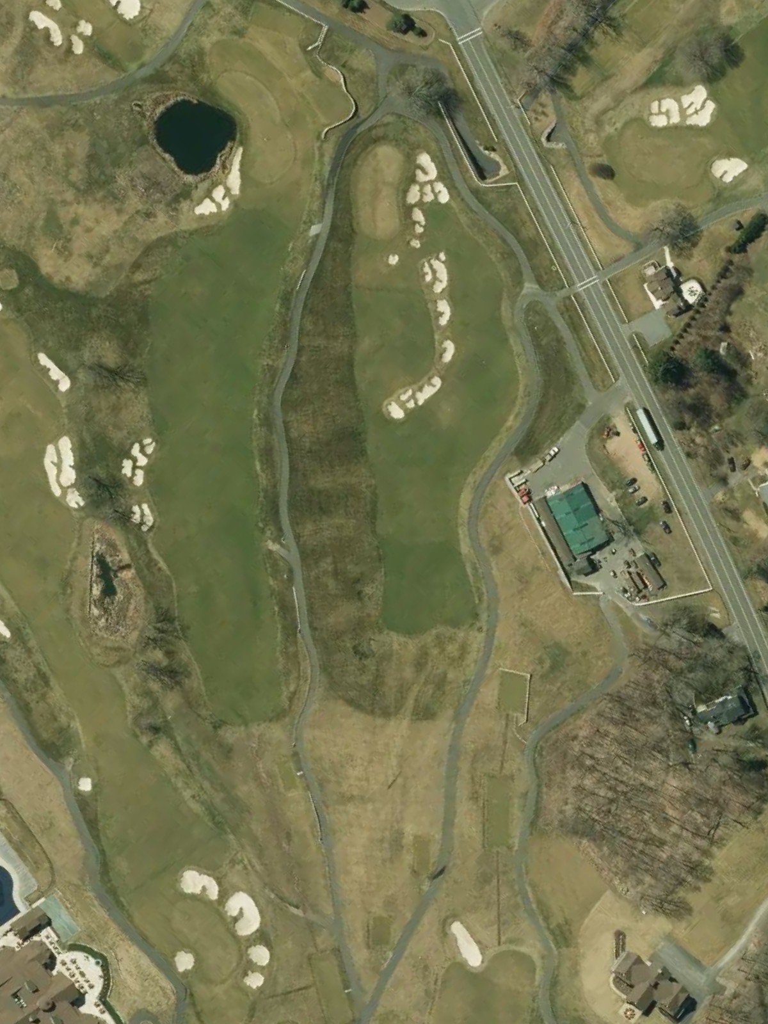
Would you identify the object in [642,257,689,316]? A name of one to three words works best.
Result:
house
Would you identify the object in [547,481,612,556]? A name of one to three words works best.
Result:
barn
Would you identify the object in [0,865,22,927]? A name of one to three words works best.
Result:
swimming pool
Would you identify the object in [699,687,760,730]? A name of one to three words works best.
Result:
house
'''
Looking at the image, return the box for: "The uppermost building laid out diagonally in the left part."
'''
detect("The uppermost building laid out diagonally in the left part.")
[8,905,49,942]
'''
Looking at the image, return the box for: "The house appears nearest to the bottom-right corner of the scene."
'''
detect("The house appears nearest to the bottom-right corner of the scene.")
[614,949,695,1018]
